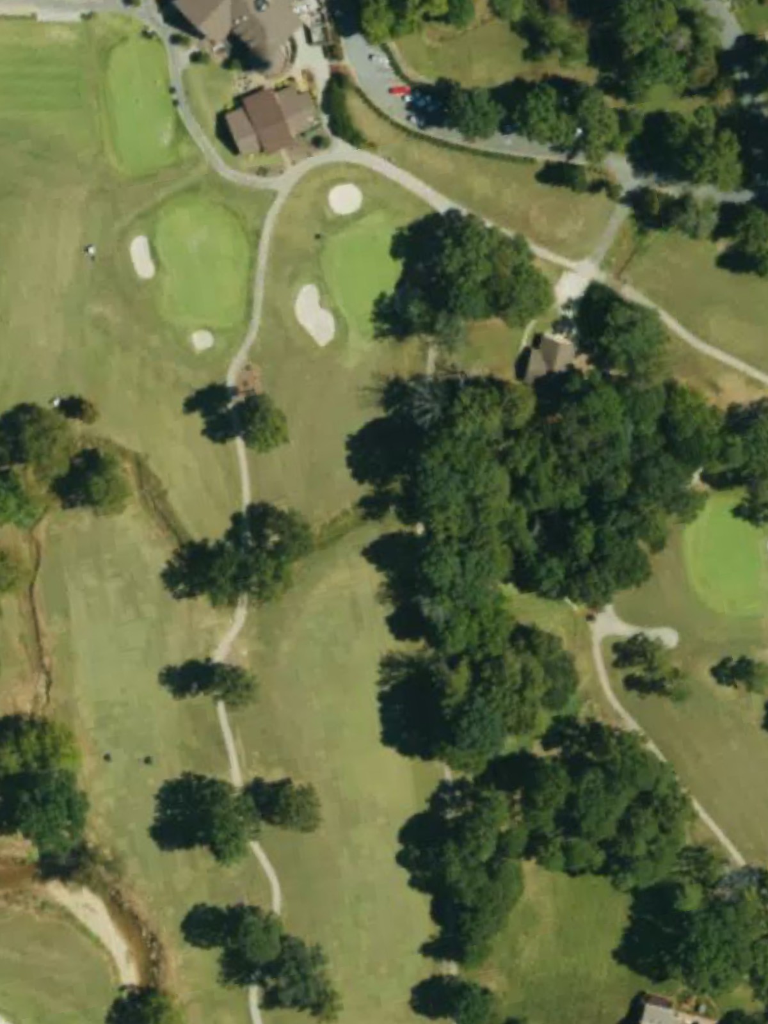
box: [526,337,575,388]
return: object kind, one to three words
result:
building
